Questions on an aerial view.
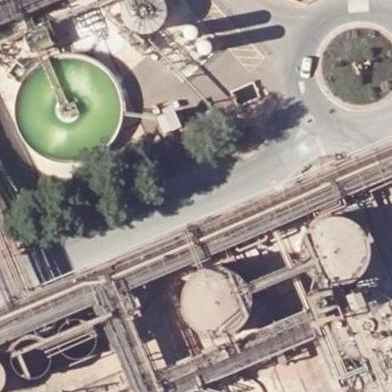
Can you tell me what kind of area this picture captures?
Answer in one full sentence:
The picture captures an industrial area.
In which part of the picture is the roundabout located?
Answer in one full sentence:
The roundabout is in the top right part of the image.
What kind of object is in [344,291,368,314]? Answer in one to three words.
building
